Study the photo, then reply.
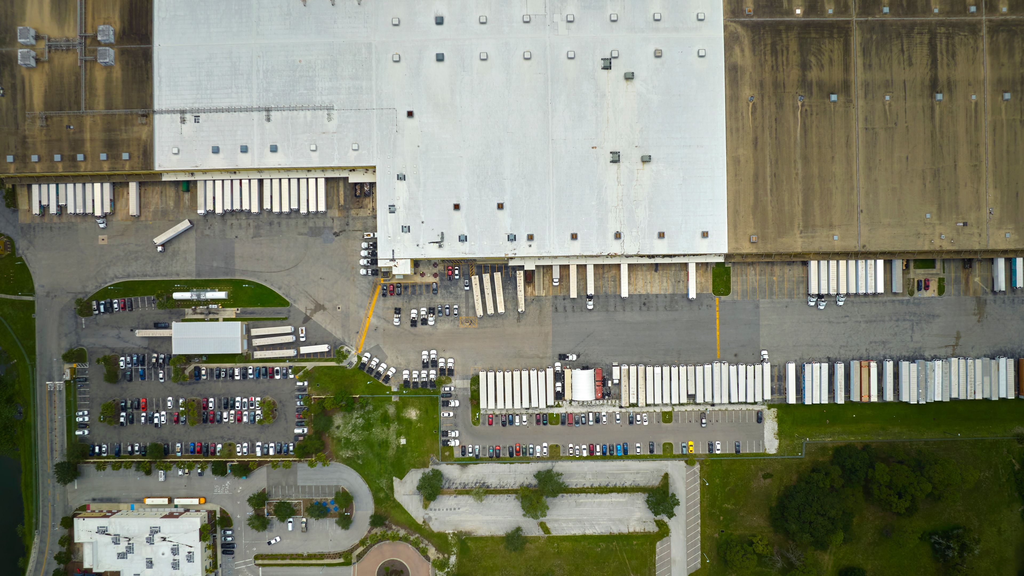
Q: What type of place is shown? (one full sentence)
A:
The picture captures an industrial area.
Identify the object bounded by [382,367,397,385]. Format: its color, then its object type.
white vehicle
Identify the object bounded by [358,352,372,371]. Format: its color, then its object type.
white vehicle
